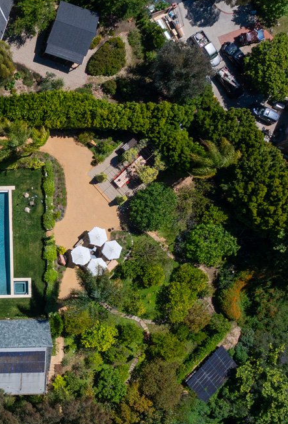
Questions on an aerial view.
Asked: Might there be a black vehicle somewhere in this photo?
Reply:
Yes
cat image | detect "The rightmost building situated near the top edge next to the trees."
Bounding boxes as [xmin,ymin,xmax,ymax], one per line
[43,4,98,64]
